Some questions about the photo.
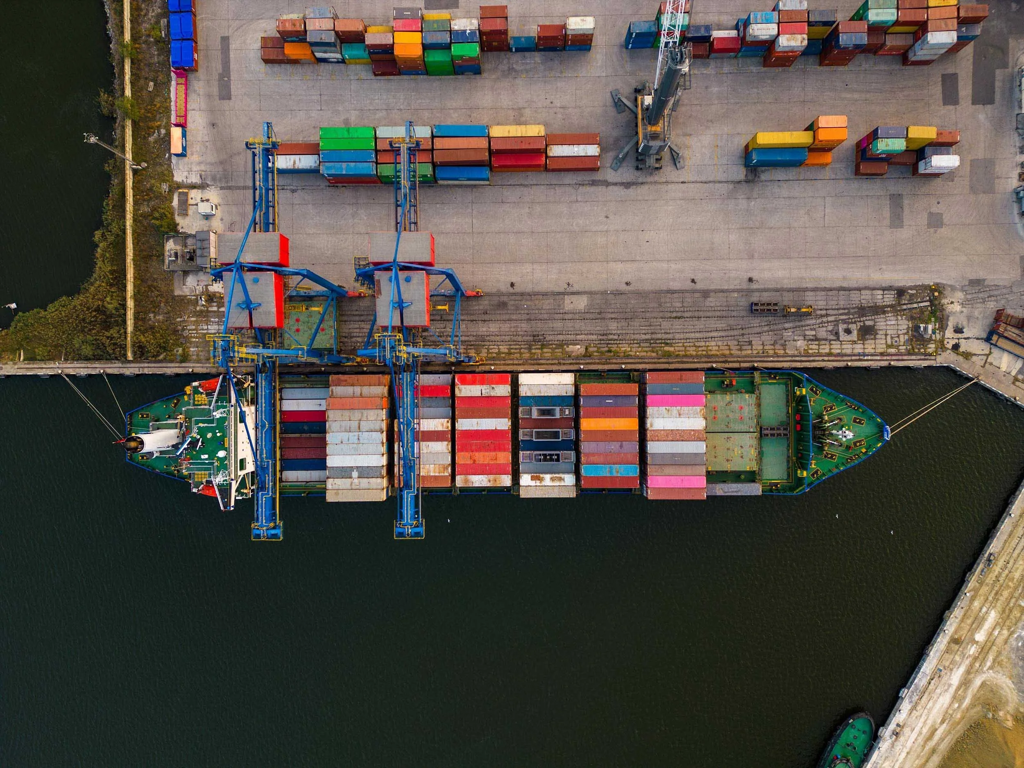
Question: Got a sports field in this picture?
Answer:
No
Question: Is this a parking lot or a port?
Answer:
port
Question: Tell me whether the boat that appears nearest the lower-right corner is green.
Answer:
Yes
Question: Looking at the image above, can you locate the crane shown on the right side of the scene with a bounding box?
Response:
[610,0,703,172]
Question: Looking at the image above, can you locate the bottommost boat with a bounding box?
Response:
[807,705,875,768]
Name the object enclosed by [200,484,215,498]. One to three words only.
boat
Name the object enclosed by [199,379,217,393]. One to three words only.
boat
